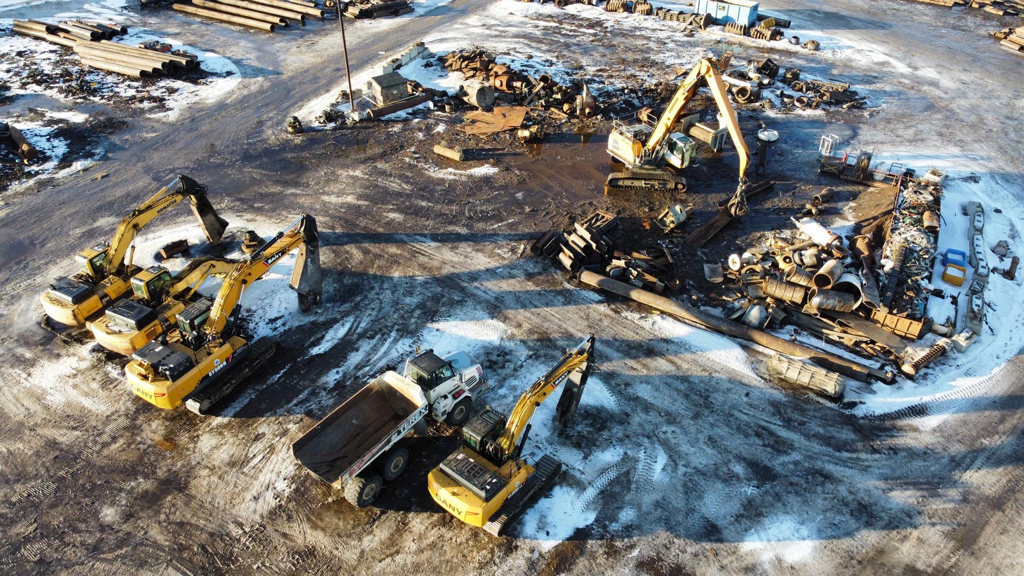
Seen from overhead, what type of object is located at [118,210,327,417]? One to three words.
work vehicle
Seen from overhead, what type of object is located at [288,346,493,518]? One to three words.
truck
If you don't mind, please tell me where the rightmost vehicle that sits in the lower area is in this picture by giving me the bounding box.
[426,327,608,542]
